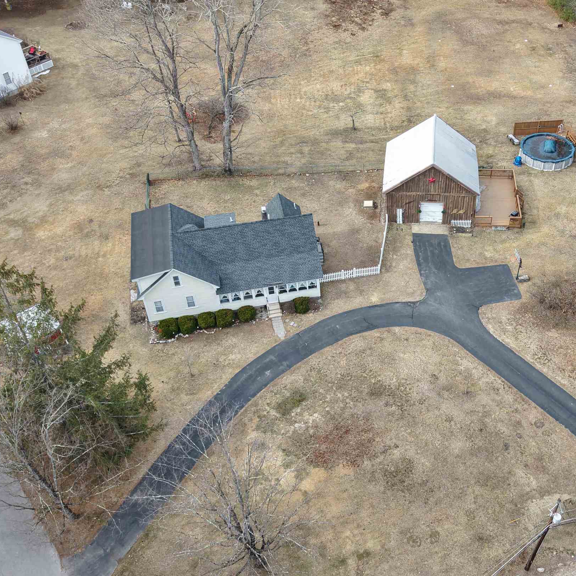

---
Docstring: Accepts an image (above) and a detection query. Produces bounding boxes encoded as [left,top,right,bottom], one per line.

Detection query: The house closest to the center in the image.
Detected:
[130,192,331,322]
